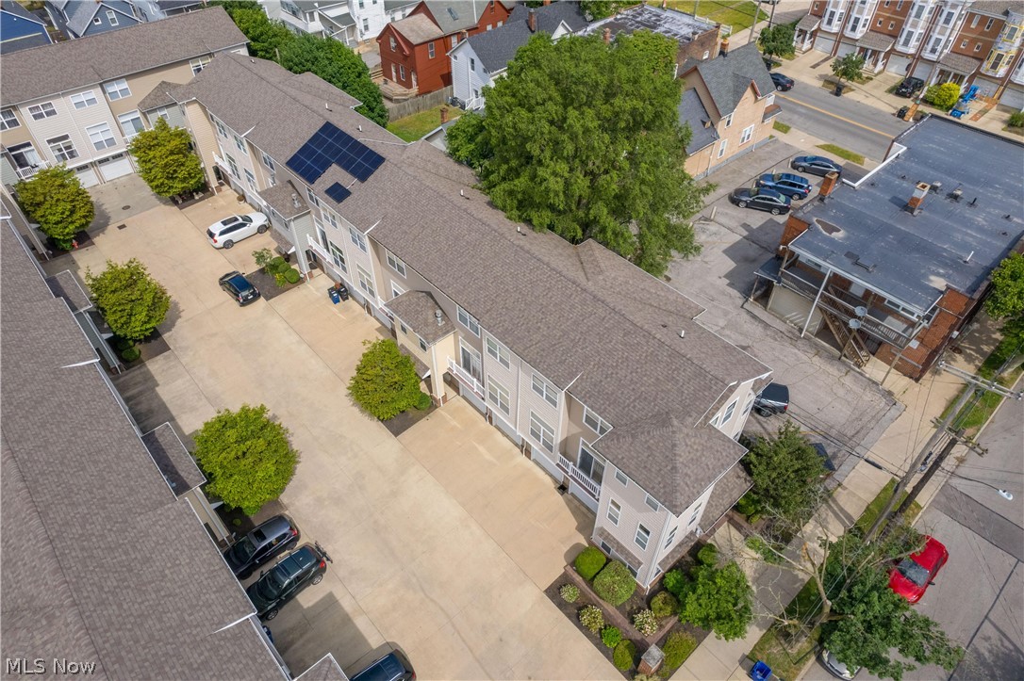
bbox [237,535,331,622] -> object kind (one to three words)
car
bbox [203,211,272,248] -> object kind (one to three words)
car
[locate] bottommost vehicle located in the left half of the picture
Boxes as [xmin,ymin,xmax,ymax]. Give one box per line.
[356,647,420,681]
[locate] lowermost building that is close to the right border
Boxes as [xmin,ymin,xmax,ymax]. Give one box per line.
[745,114,1024,386]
